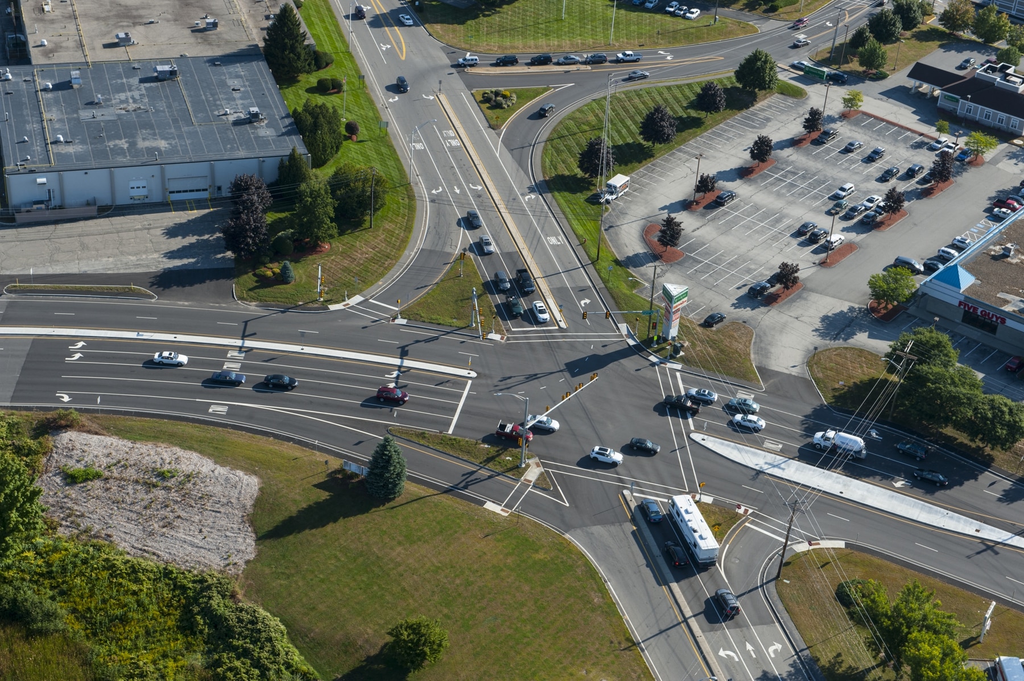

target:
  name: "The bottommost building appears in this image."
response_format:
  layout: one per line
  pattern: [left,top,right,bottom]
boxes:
[906,207,1024,357]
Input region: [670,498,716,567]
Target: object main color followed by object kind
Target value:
white camper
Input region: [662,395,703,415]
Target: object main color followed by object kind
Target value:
black vehicle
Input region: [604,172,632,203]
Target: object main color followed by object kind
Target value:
white truck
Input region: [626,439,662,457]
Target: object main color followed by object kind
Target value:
black car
